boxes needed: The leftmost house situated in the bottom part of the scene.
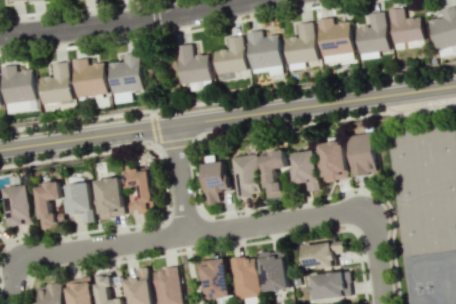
[0,186,33,228]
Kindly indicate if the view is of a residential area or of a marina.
residential area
